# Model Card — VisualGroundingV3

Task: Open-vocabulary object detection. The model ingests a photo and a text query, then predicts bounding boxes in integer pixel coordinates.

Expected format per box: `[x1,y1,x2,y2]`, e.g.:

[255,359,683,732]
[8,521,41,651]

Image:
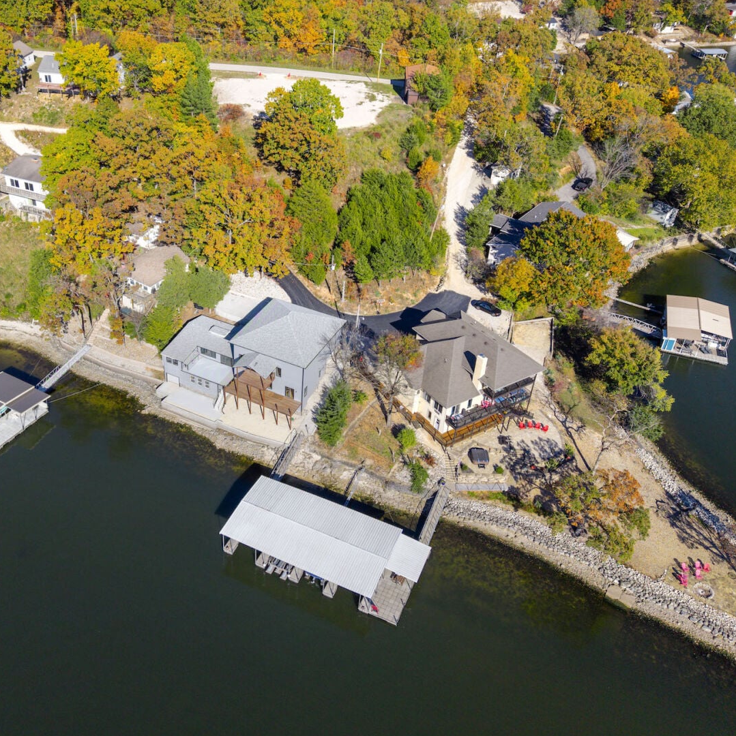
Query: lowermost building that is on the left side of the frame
[159,300,346,431]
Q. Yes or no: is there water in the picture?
Yes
